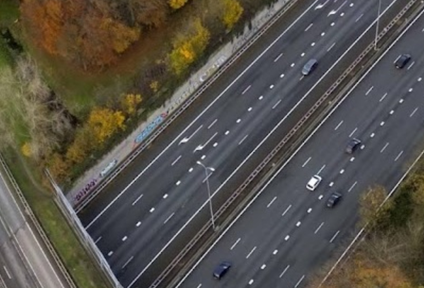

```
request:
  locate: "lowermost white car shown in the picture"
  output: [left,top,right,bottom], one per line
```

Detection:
[305,175,323,192]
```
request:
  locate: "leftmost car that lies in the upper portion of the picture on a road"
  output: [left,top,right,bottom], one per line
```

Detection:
[301,57,319,75]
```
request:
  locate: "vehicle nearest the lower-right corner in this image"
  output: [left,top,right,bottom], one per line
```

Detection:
[324,191,343,210]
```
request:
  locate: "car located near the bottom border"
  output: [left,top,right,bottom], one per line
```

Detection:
[211,260,233,283]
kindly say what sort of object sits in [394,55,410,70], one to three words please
car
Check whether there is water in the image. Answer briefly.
No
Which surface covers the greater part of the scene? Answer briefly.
paved ground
